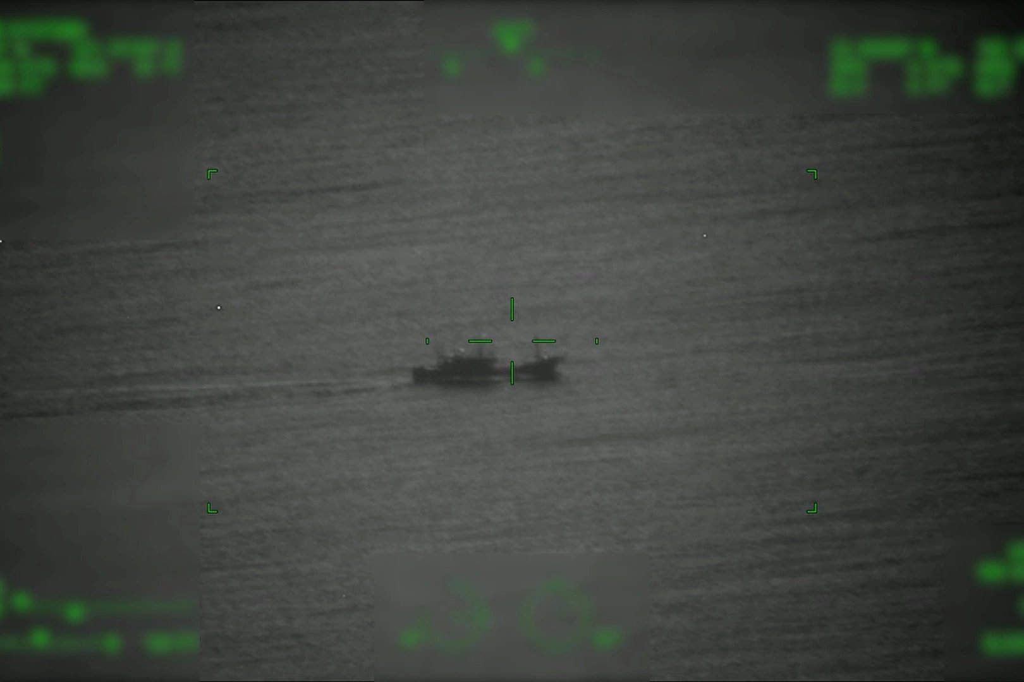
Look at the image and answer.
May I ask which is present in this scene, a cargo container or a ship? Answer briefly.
ship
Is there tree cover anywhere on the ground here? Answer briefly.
No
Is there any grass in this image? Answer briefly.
No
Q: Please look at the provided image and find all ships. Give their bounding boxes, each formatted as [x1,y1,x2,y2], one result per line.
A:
[411,334,562,382]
